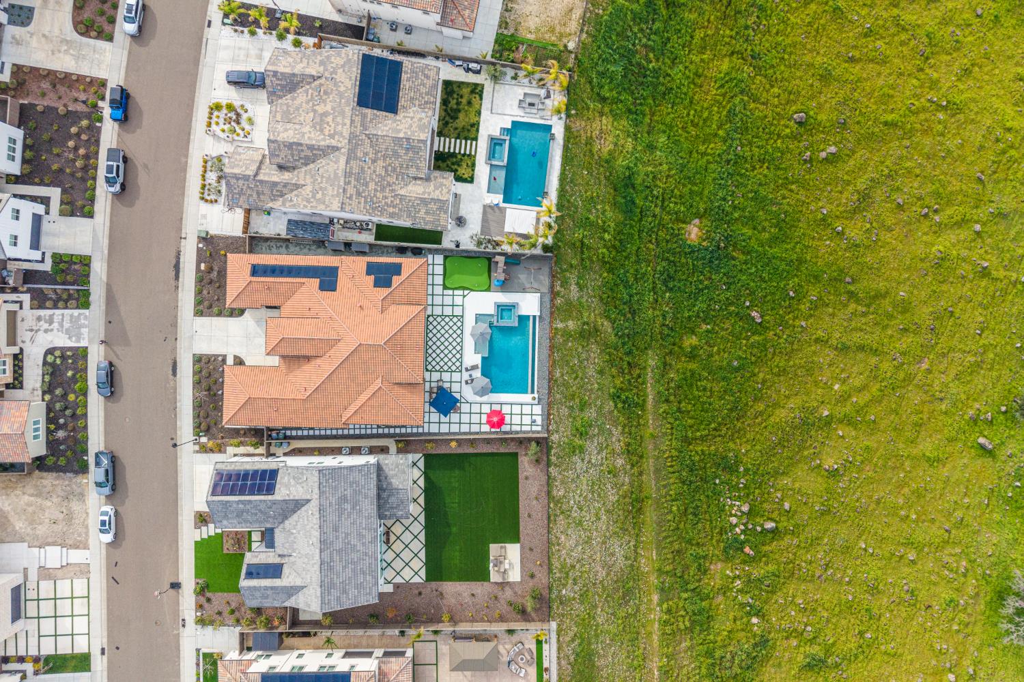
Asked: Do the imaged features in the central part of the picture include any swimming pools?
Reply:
Yes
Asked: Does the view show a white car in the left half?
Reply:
Yes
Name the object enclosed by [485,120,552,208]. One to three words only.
swimming pool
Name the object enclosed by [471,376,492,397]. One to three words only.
umbrella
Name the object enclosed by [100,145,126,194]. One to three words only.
truck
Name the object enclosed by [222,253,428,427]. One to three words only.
house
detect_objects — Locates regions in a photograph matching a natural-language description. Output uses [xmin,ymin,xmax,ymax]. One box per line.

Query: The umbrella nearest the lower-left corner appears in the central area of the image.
[429,386,461,418]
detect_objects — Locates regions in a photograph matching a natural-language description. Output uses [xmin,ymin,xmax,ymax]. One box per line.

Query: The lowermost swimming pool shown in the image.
[474,302,536,394]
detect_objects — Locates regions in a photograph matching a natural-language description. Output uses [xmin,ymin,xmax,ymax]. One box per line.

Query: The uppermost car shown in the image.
[119,0,144,33]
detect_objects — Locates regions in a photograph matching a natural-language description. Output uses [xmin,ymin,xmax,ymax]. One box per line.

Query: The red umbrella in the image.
[486,409,506,428]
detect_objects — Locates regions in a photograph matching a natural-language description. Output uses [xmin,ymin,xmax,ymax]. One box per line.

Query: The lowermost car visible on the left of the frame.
[94,506,116,546]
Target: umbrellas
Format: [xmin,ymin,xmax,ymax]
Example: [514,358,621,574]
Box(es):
[429,386,461,418]
[486,409,506,428]
[470,323,493,345]
[471,376,492,397]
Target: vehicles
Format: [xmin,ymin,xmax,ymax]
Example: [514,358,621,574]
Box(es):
[100,145,126,194]
[92,360,113,398]
[90,450,114,497]
[94,506,116,546]
[226,67,266,88]
[105,83,129,122]
[119,0,144,33]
